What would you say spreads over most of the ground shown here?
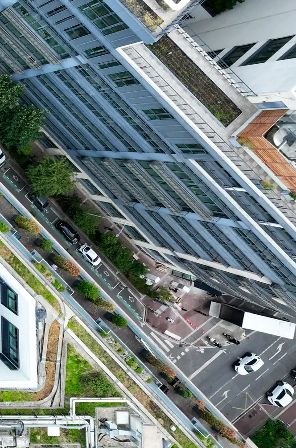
buildings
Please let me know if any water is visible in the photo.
No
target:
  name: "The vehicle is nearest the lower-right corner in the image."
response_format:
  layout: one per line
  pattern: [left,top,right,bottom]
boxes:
[267,383,292,407]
